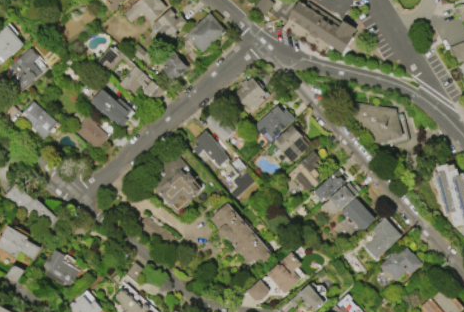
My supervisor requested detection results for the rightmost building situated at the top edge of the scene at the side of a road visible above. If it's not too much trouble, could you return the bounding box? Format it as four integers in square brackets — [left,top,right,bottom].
[286,0,362,53]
